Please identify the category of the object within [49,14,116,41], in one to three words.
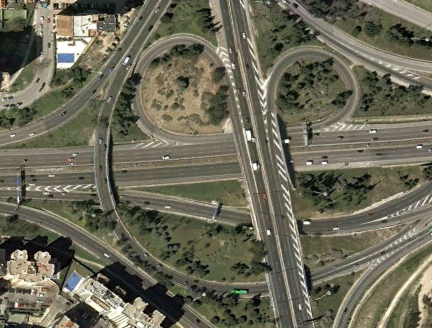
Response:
building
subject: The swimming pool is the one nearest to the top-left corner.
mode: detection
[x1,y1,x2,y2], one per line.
[56,39,95,68]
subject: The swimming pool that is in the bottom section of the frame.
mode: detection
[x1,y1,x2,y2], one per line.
[62,269,86,293]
